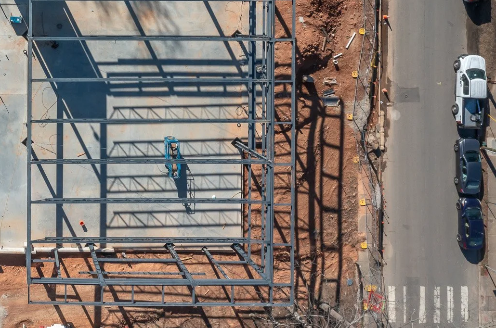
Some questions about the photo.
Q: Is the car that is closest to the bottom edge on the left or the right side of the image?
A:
right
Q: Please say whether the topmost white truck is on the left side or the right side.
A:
right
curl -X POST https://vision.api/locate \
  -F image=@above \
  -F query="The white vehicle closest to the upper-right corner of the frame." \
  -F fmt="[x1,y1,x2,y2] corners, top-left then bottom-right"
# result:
[454,55,489,125]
